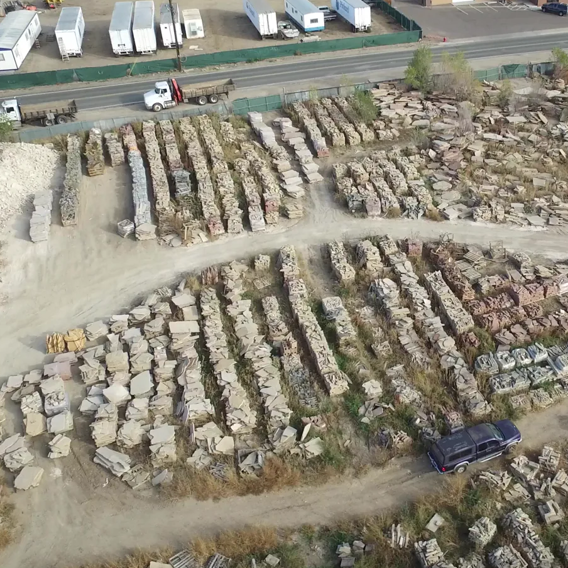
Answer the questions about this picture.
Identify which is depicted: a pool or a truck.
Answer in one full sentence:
Looking from above, you can make out a truck.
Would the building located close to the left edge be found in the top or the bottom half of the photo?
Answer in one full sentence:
Seen from above, the building located close to the left edge lies in the top half of the view.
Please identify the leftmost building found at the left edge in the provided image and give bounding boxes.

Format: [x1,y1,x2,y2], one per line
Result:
[0,11,42,72]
